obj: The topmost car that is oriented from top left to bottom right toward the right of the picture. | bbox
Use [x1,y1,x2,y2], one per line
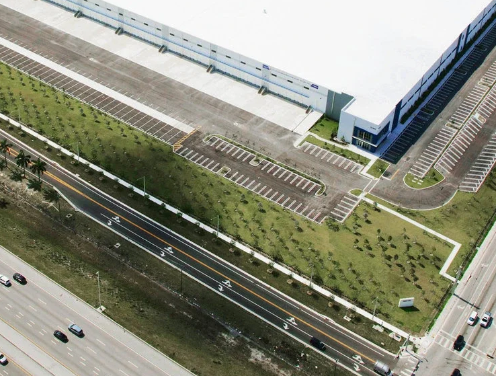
[308,336,327,351]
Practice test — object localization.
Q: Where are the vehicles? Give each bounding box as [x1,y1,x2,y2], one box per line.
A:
[451,368,461,376]
[51,330,68,345]
[369,358,393,376]
[12,274,28,286]
[308,336,327,351]
[453,334,466,351]
[0,275,12,288]
[479,310,493,327]
[67,325,84,339]
[0,353,9,365]
[465,310,478,326]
